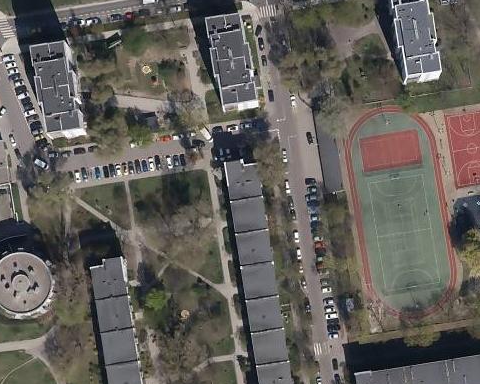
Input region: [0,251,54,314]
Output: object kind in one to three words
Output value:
building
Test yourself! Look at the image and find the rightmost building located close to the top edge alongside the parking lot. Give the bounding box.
[205,13,259,112]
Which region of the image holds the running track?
right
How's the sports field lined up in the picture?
up and down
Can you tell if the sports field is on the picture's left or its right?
right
